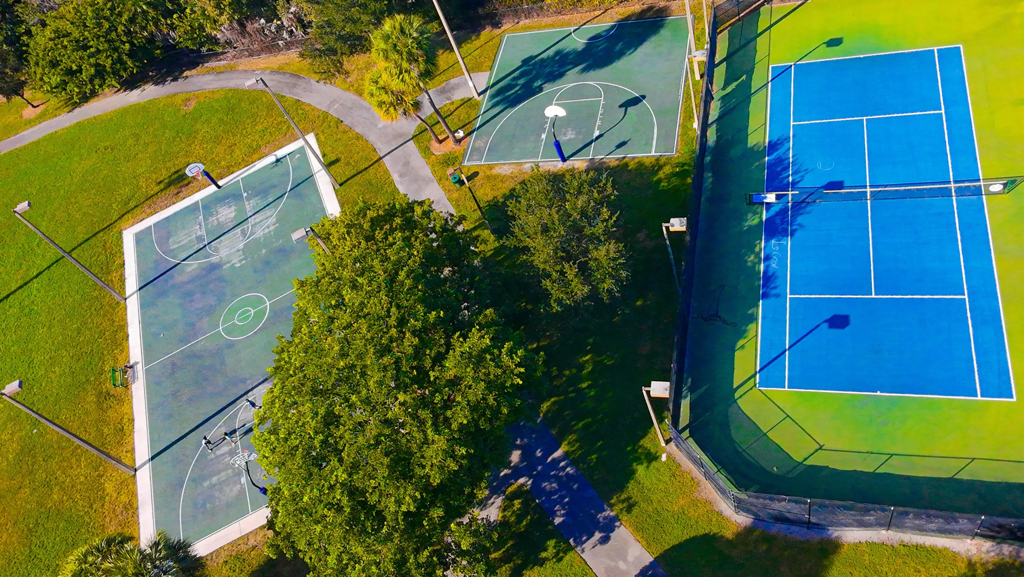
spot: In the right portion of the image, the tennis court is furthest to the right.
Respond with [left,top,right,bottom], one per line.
[679,0,1024,540]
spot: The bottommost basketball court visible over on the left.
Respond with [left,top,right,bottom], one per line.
[122,131,411,570]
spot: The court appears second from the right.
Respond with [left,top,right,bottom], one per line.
[461,11,700,166]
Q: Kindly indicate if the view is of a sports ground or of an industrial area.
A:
sports ground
